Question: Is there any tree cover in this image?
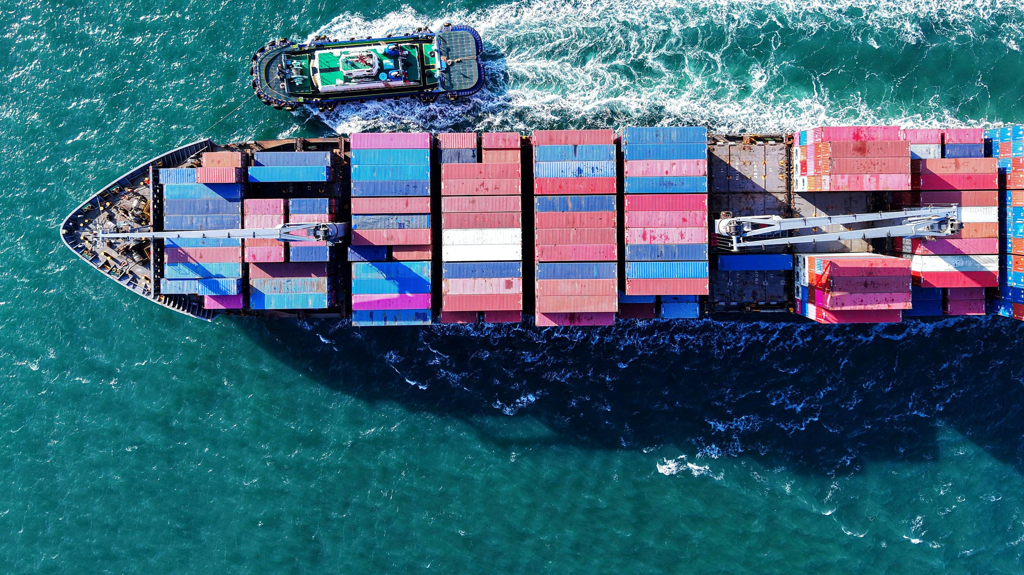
No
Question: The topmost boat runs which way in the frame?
from side to side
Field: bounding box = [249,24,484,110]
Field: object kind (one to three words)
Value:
boat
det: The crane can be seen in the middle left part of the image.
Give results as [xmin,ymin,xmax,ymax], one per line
[97,215,354,247]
